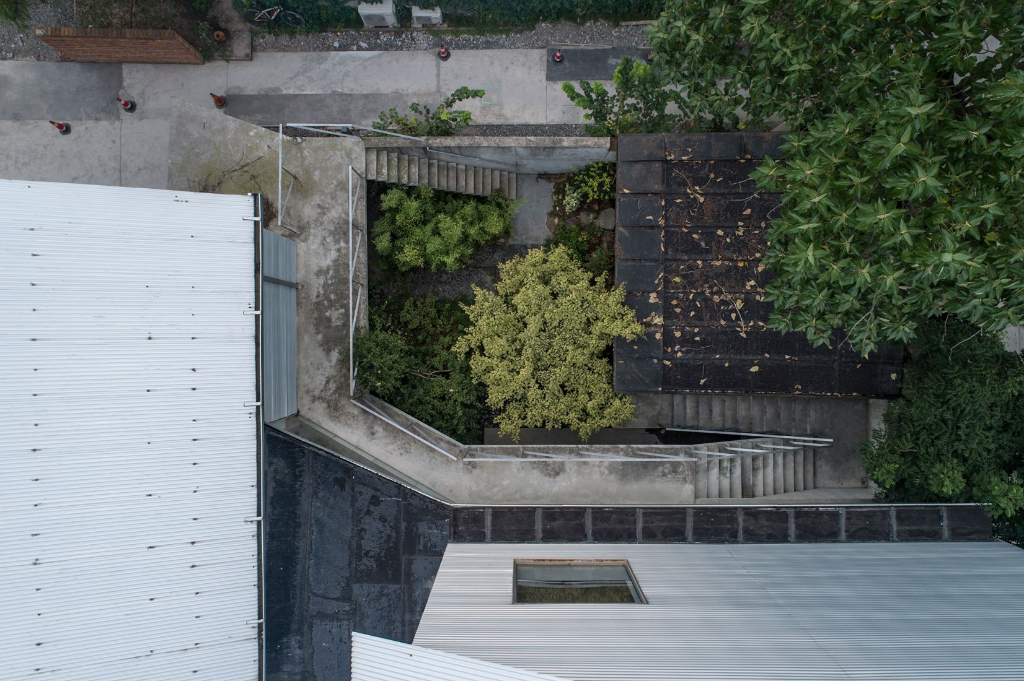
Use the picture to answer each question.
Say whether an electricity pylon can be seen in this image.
No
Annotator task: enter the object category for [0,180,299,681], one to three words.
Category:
warehouse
